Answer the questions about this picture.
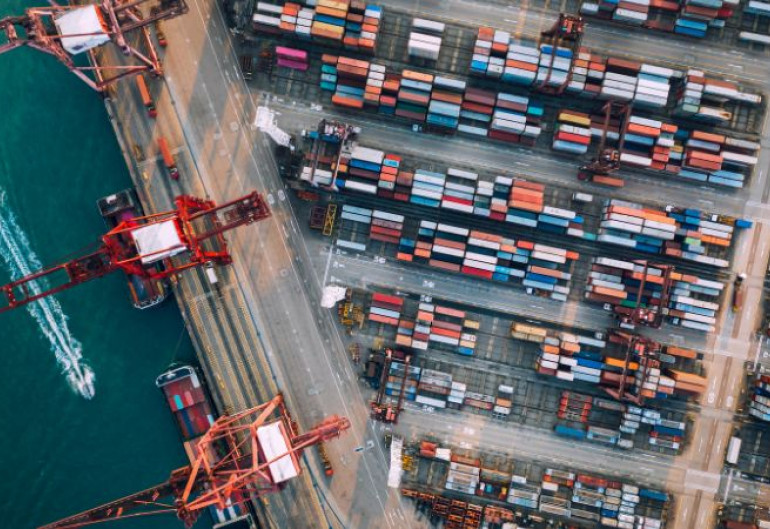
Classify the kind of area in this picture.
port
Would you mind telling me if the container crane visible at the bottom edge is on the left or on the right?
left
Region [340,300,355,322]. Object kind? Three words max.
work vehicle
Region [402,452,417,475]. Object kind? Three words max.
work vehicle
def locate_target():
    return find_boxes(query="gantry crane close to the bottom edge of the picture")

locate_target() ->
[40,385,354,529]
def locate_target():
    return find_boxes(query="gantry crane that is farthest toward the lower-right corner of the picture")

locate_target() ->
[587,324,656,406]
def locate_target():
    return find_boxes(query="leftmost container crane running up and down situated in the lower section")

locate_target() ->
[371,338,414,421]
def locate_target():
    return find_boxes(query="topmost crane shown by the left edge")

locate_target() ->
[0,0,193,103]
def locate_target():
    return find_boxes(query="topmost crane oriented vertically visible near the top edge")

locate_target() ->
[527,18,584,110]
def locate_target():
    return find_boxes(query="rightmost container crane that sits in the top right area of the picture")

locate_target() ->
[570,100,637,185]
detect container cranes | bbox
[0,189,274,319]
[605,258,675,331]
[527,18,584,110]
[587,324,656,406]
[40,385,354,529]
[570,100,637,185]
[309,117,356,198]
[371,338,414,421]
[0,0,193,103]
